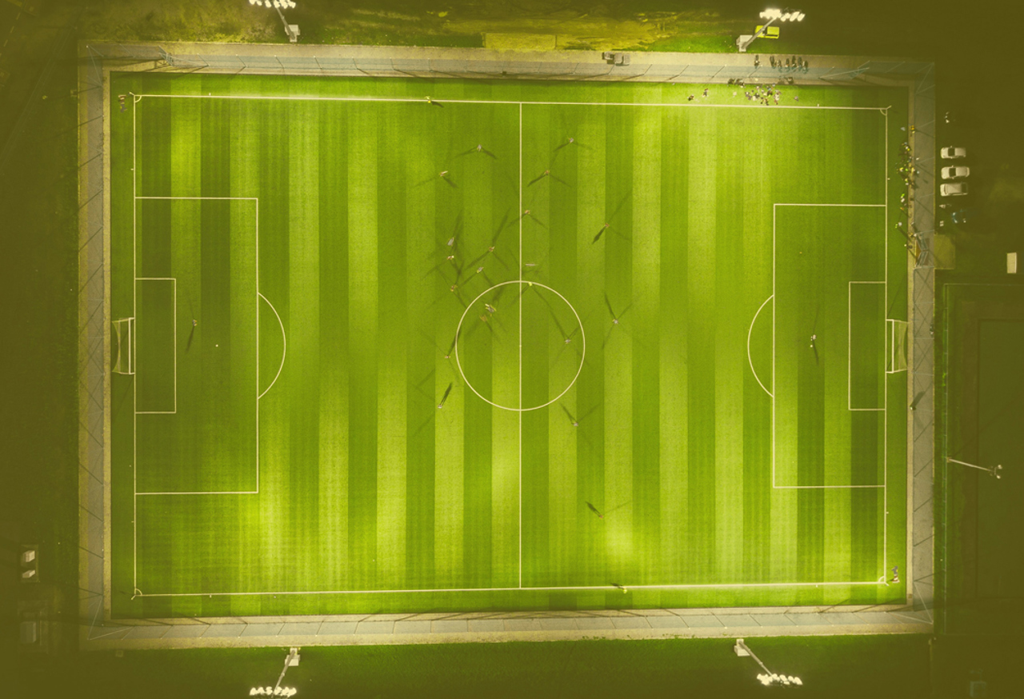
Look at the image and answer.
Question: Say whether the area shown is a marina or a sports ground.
sports ground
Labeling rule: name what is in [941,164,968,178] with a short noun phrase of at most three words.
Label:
car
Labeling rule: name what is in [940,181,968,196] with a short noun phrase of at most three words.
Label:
vehicle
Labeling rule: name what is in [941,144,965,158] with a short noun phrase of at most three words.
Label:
car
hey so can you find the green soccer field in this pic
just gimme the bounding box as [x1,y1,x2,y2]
[110,71,908,620]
